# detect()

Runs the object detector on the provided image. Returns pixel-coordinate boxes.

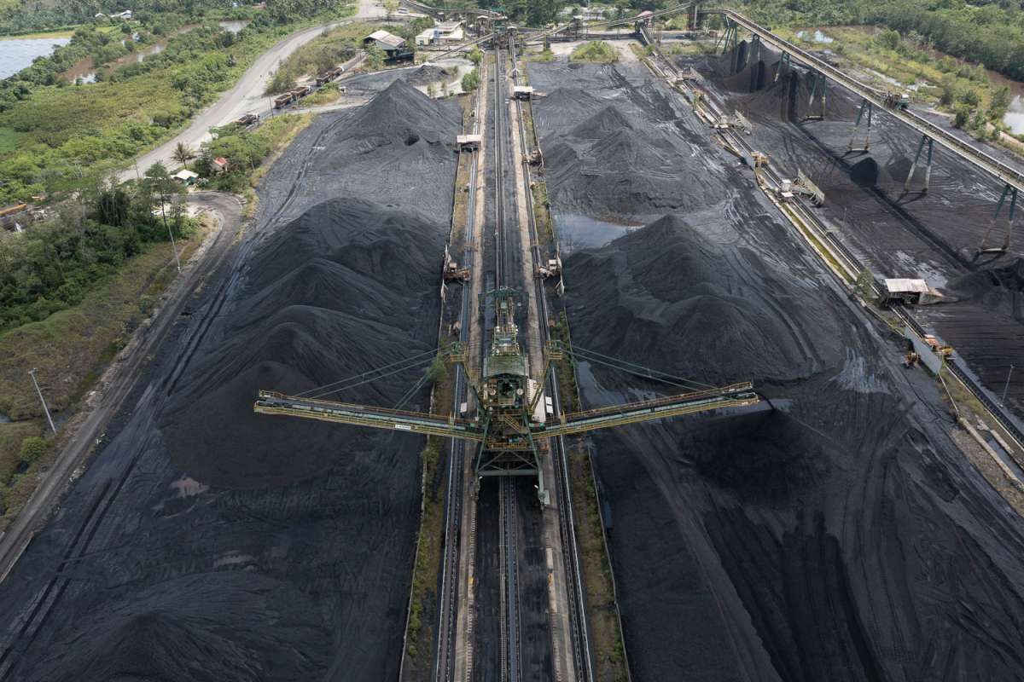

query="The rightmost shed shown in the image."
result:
[887,275,968,311]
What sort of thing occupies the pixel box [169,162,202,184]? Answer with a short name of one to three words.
shed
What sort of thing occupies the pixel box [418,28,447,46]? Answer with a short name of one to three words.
building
